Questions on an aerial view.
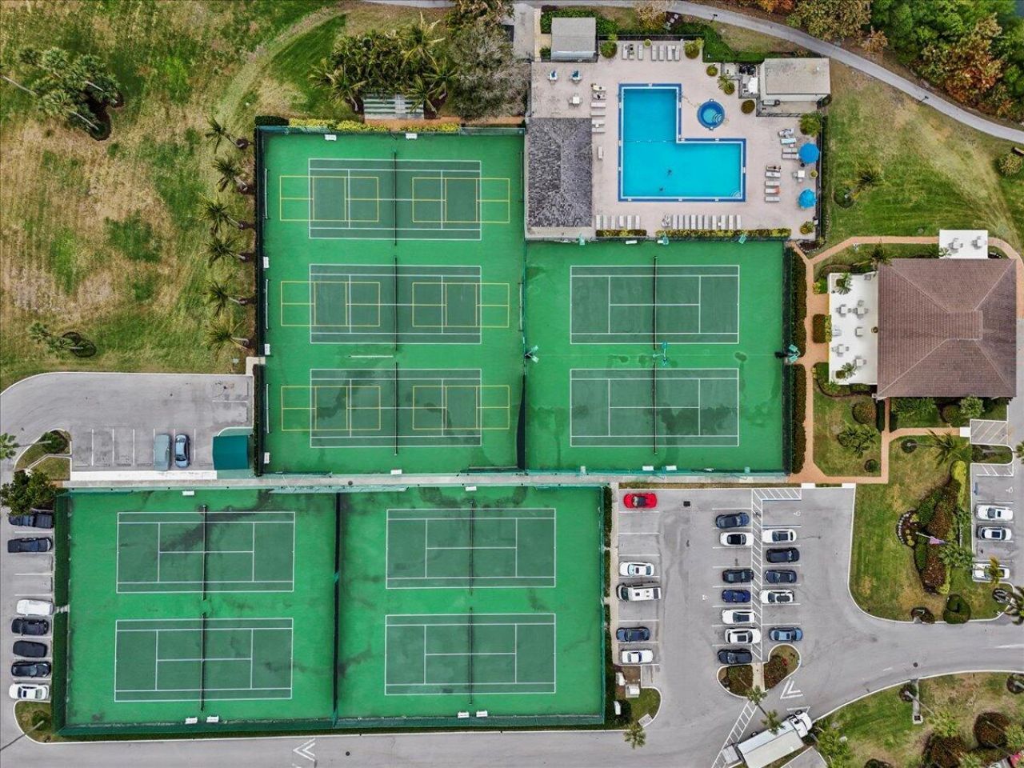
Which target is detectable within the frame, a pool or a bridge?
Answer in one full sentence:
This aerial view contains a pool.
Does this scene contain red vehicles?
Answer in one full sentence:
Yes, I can see a red vehicle in this picture.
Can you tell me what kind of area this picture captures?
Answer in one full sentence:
The area seen from above is a sports ground.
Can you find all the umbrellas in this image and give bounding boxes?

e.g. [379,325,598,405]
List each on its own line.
[797,190,816,209]
[798,143,819,164]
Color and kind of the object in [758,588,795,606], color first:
white car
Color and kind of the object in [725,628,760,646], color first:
white car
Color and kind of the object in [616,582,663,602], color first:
white vehicle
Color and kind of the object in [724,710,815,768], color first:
white truck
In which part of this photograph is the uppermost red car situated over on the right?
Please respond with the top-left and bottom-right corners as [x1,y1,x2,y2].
[623,493,657,509]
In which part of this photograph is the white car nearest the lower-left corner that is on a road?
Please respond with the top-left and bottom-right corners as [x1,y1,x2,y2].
[12,682,48,700]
